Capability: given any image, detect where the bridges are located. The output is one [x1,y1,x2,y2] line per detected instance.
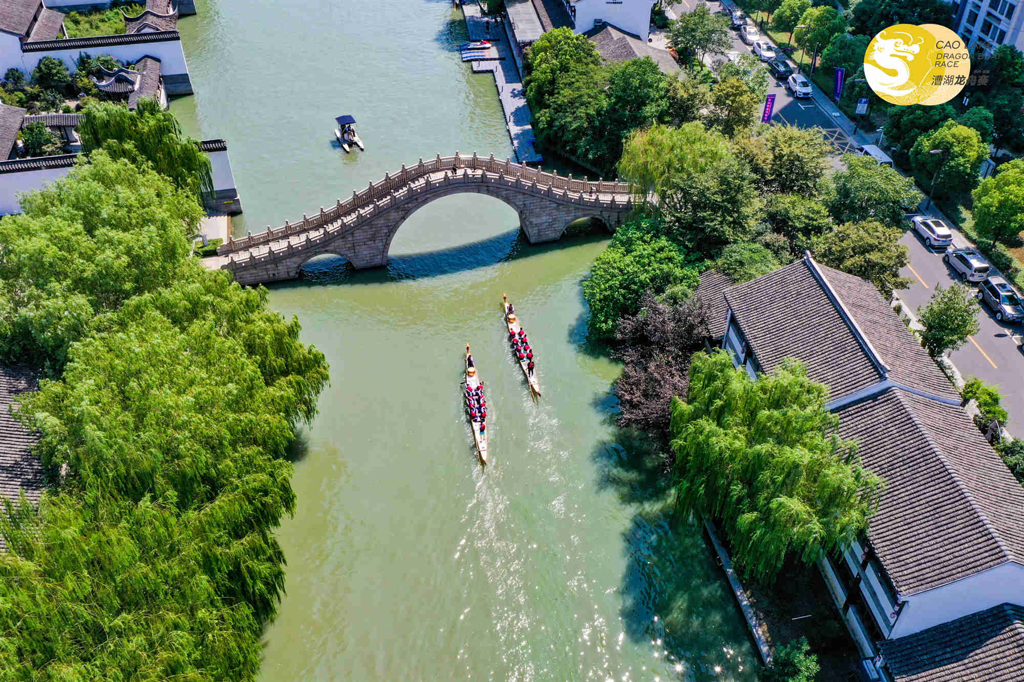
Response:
[213,147,644,285]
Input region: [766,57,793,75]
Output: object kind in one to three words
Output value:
car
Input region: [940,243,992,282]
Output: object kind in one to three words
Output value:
car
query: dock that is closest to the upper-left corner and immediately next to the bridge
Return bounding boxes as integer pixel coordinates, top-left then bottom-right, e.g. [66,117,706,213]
[458,0,541,164]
